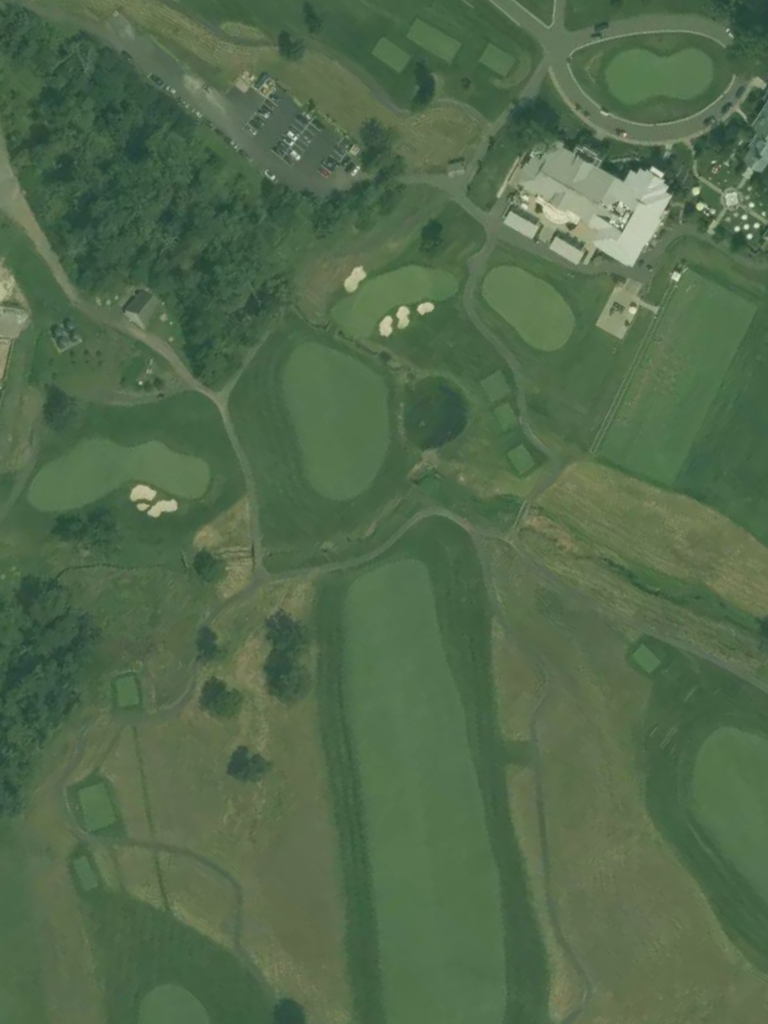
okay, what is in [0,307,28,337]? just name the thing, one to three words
building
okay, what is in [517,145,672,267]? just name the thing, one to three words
building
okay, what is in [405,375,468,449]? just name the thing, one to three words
pond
